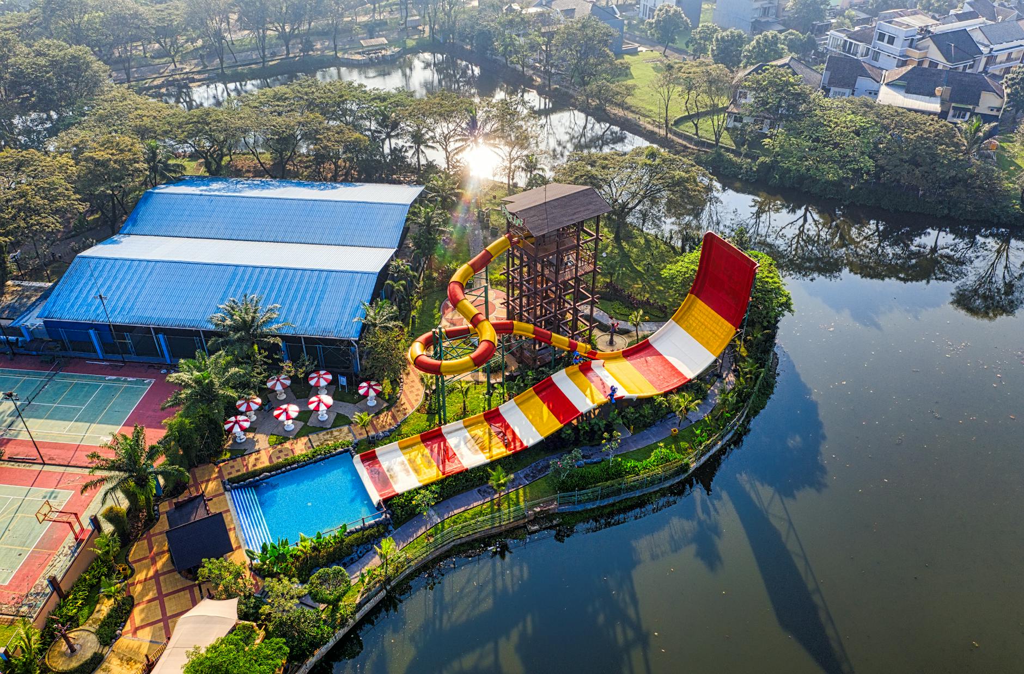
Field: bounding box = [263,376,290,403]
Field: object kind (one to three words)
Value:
umbrella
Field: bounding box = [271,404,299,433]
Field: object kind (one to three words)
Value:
umbrella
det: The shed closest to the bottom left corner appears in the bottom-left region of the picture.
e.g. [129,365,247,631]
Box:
[165,499,233,588]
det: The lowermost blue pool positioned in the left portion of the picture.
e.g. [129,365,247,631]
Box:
[224,447,391,560]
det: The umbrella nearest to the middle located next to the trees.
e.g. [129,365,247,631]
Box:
[356,381,383,408]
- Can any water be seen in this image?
Yes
